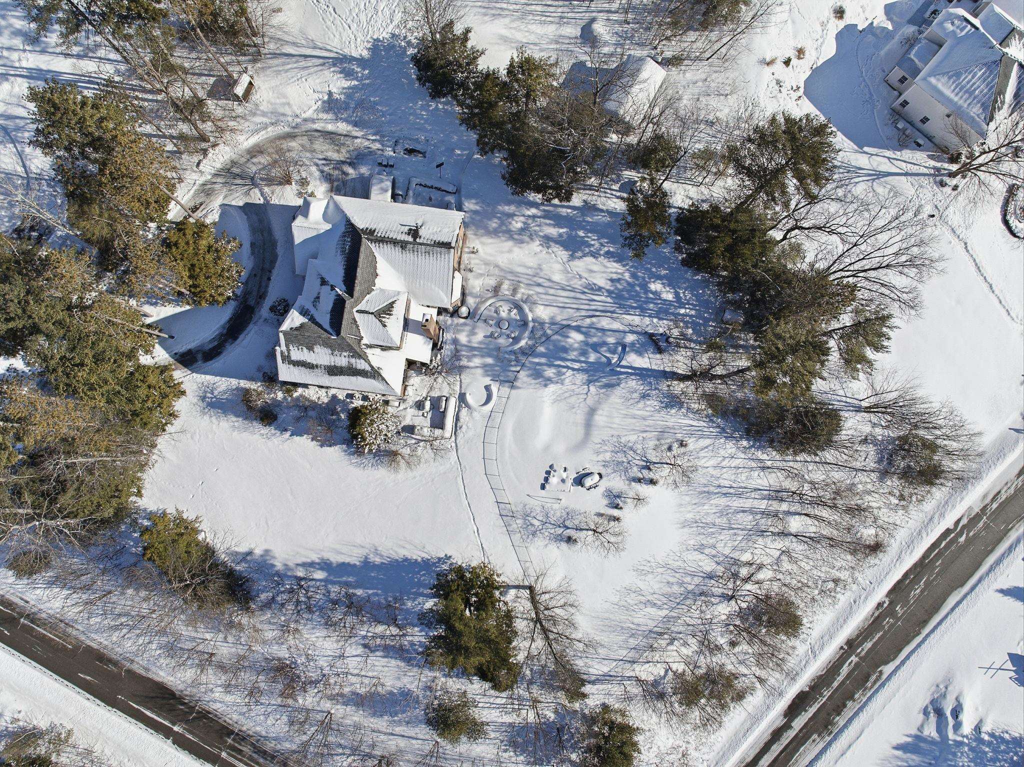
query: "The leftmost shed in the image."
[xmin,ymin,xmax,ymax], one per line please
[233,74,258,105]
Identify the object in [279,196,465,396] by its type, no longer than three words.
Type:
house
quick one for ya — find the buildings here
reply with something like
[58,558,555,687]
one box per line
[601,55,667,136]
[279,196,465,396]
[233,74,258,105]
[885,0,1024,152]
